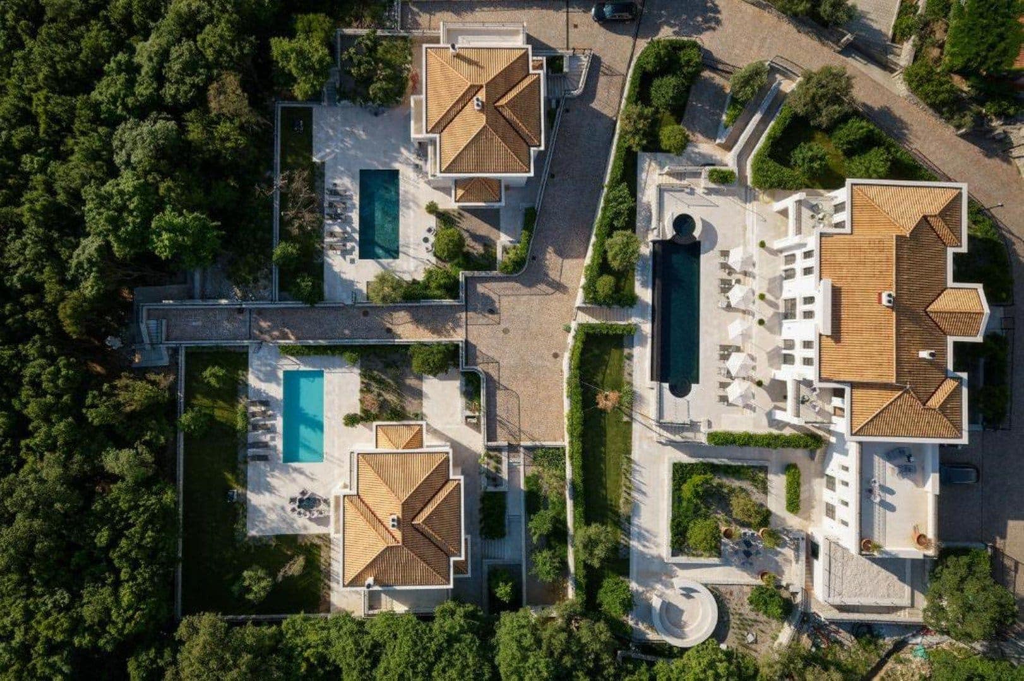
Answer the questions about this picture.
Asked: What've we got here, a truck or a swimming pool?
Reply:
swimming pool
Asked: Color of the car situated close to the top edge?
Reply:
black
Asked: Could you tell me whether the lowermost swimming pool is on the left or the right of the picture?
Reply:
left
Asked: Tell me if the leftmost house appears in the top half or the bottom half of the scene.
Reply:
bottom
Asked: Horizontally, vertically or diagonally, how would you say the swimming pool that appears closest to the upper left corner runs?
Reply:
vertically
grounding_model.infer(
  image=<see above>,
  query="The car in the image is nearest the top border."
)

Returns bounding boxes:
[591,0,638,24]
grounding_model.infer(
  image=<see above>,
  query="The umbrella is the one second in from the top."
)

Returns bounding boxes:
[727,282,753,311]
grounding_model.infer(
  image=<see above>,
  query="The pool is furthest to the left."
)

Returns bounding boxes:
[281,368,326,466]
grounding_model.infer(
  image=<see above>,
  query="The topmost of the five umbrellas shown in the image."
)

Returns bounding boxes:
[726,244,753,272]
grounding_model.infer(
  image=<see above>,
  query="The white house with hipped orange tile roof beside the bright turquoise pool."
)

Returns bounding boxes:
[332,422,471,615]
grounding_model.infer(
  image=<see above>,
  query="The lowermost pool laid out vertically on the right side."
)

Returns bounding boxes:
[661,242,699,395]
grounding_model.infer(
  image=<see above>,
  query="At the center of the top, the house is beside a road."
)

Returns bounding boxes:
[411,21,546,208]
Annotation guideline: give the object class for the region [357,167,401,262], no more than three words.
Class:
swimming pool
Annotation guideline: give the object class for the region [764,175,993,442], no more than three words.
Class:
house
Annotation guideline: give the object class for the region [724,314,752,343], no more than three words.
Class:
umbrella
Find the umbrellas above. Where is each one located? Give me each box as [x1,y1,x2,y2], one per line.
[724,314,752,343]
[727,282,753,311]
[725,350,752,379]
[726,244,753,272]
[726,377,752,406]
